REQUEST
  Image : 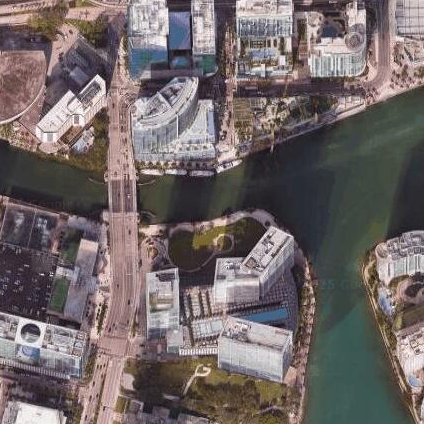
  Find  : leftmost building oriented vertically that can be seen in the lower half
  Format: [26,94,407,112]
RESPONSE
[54,238,99,328]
